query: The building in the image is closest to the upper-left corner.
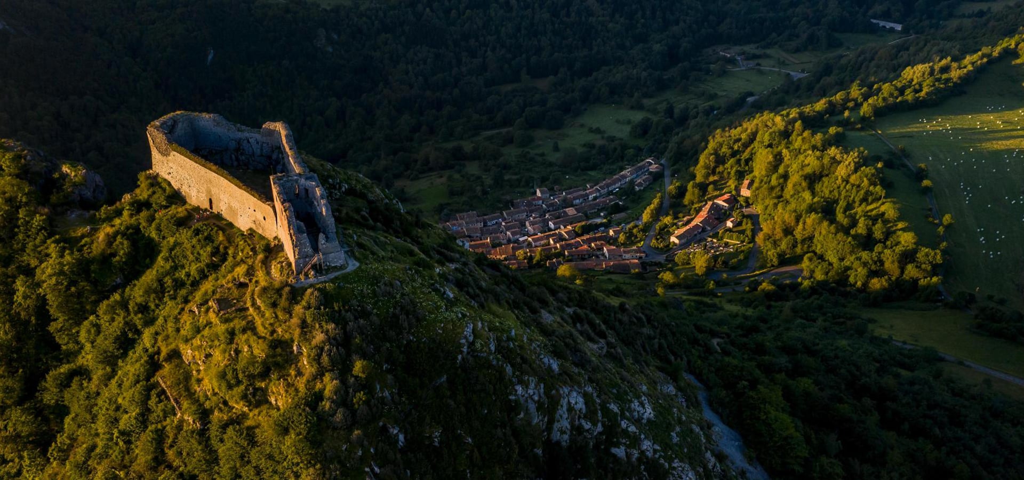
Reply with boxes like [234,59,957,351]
[146,110,349,275]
